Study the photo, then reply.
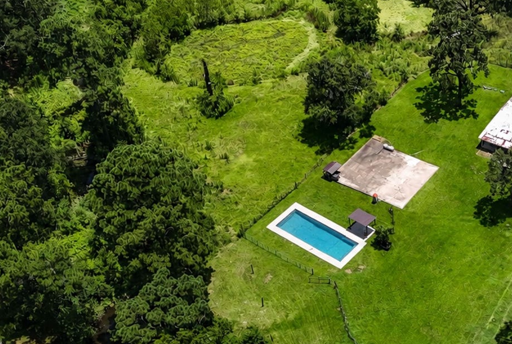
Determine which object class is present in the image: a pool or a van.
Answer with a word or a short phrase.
pool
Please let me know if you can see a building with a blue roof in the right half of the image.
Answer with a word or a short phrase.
No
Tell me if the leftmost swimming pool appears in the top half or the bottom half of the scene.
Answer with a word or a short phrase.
bottom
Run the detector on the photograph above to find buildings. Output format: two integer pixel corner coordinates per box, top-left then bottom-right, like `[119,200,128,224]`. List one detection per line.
[322,162,342,184]
[473,98,512,159]
[347,208,377,239]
